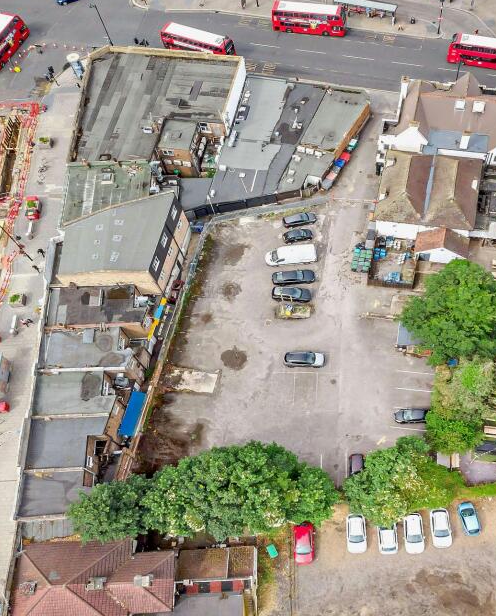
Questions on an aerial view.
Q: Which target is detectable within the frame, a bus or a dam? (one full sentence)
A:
Visible in the photo is a bus.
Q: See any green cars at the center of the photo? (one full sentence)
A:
No, the scene shows no green car at the center of the photo.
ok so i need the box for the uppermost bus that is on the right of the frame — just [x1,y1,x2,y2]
[274,0,343,39]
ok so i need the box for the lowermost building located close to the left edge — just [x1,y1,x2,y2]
[9,537,185,616]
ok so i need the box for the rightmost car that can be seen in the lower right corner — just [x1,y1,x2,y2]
[457,501,480,537]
